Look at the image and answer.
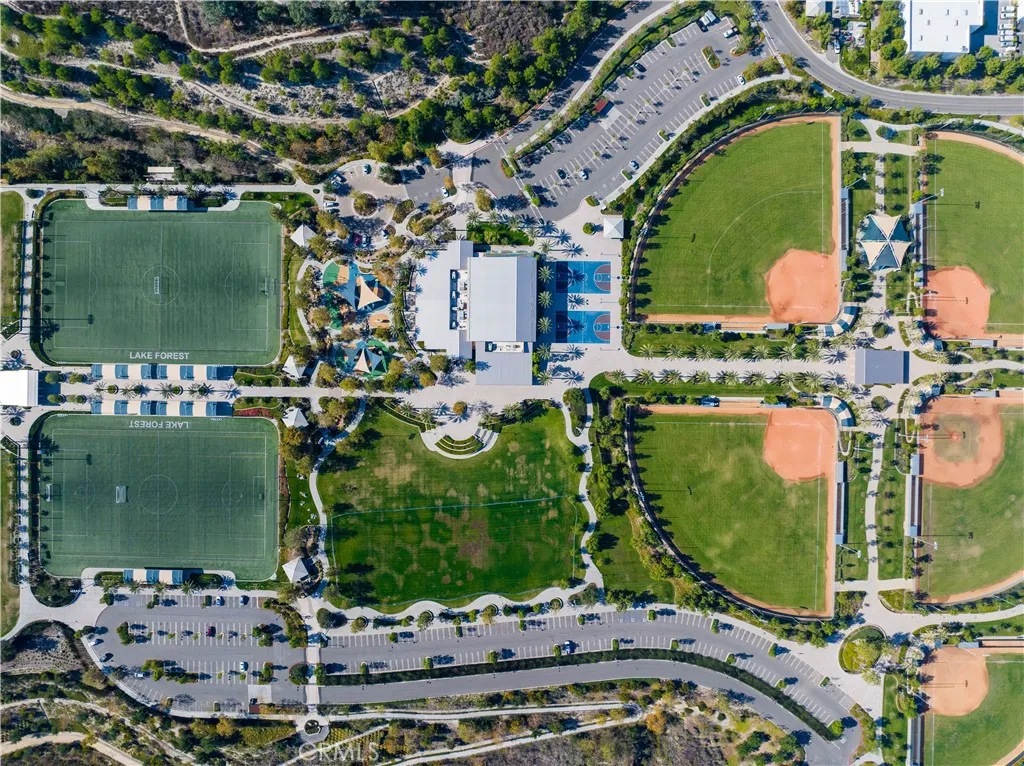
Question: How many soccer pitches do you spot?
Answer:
2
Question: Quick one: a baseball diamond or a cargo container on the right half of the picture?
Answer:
baseball diamond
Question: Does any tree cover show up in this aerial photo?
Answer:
Yes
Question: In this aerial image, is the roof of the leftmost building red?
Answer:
No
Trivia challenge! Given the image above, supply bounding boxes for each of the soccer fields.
[39,415,280,581]
[41,199,283,365]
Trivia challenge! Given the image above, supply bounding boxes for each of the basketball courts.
[557,311,611,343]
[557,261,611,293]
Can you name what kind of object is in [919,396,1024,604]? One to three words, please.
baseball field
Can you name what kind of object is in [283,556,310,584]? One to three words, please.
tent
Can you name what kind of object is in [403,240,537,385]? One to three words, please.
building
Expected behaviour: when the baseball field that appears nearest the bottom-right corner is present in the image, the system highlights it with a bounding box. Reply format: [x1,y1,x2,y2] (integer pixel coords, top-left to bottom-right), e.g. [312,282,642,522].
[921,646,1024,766]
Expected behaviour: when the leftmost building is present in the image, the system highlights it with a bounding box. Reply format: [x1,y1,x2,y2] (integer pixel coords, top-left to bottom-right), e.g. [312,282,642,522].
[0,370,42,407]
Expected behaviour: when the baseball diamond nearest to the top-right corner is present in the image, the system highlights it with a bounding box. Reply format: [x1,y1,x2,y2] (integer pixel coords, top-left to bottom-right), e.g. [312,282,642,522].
[922,131,1024,346]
